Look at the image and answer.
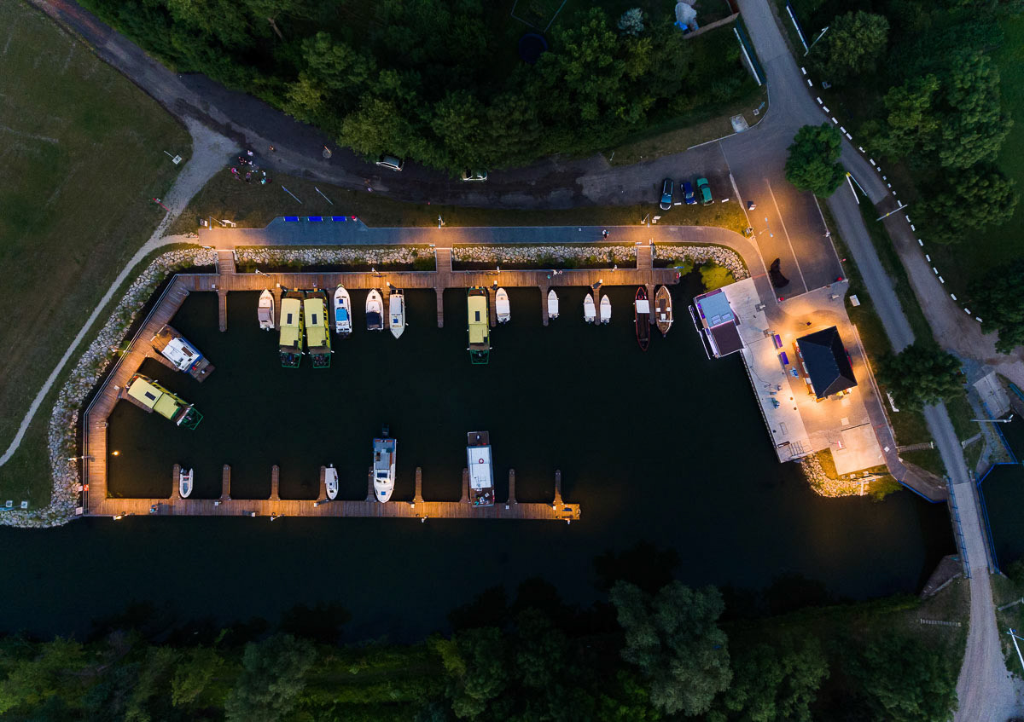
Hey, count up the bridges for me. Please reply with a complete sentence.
Only 1 bridge is visible.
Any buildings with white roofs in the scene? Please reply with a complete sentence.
No, I can see no building with a white roof in this picture.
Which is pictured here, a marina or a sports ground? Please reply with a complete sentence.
The area seen from above is a marina.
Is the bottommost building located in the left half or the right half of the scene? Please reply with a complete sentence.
The bottommost building appears in the right half of the scene.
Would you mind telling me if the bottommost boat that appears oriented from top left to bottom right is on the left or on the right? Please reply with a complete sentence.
You can find the bottommost boat that appears oriented from top left to bottom right on the left side of the picture.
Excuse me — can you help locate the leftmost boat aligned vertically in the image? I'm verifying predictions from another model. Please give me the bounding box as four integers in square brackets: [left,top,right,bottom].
[180,469,194,498]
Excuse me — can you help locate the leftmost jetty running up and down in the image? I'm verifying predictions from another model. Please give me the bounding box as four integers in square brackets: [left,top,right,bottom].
[168,464,184,499]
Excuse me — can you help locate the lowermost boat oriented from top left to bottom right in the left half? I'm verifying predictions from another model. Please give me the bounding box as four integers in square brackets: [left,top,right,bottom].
[123,372,205,431]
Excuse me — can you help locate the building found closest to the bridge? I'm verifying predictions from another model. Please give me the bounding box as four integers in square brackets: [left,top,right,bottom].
[785,325,858,399]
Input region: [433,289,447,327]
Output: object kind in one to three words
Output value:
pier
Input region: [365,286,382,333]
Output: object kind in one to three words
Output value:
boat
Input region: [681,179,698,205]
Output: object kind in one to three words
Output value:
car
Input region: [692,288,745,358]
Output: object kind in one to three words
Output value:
building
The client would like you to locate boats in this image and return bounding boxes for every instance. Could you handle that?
[256,285,275,333]
[372,432,397,505]
[324,466,338,502]
[333,283,351,339]
[584,292,597,324]
[302,285,335,369]
[465,283,493,365]
[123,372,205,431]
[148,324,215,382]
[656,283,673,338]
[600,292,612,325]
[496,284,513,324]
[633,284,651,351]
[277,285,306,370]
[365,286,382,333]
[389,289,407,339]
[467,430,495,508]
[547,286,560,321]
[180,469,194,498]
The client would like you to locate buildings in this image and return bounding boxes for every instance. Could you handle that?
[692,288,745,358]
[785,325,858,399]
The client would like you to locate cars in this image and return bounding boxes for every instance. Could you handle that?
[462,169,488,181]
[696,176,713,205]
[681,179,698,205]
[658,178,674,210]
[377,154,405,171]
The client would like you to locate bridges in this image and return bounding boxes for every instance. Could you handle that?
[942,479,1001,578]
